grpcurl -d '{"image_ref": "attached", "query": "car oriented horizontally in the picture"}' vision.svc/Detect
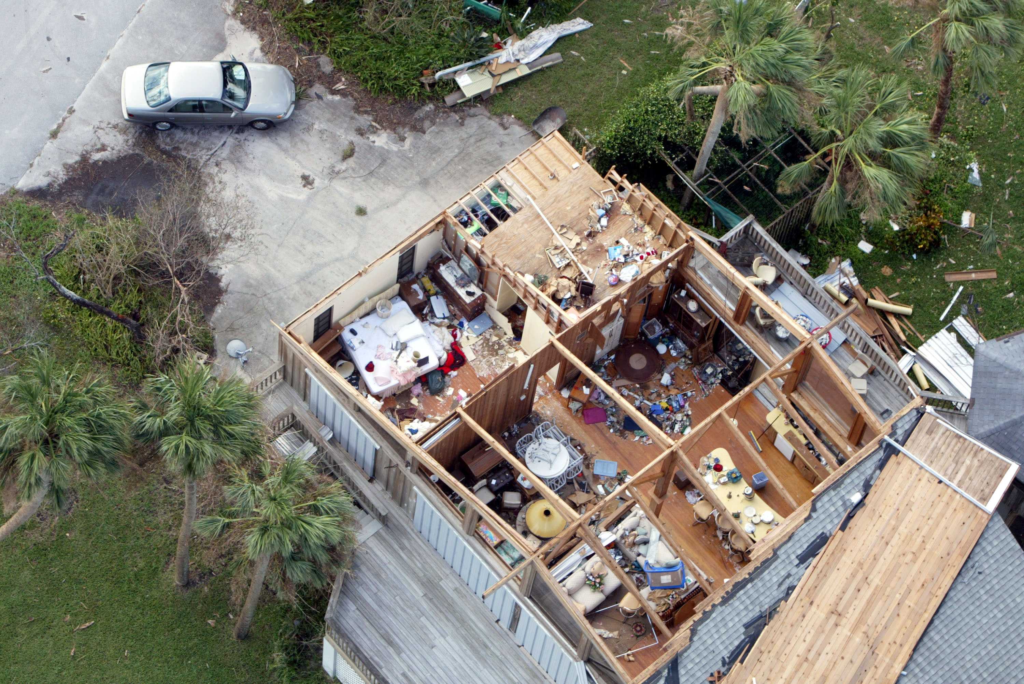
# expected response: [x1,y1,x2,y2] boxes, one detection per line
[124,55,299,133]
